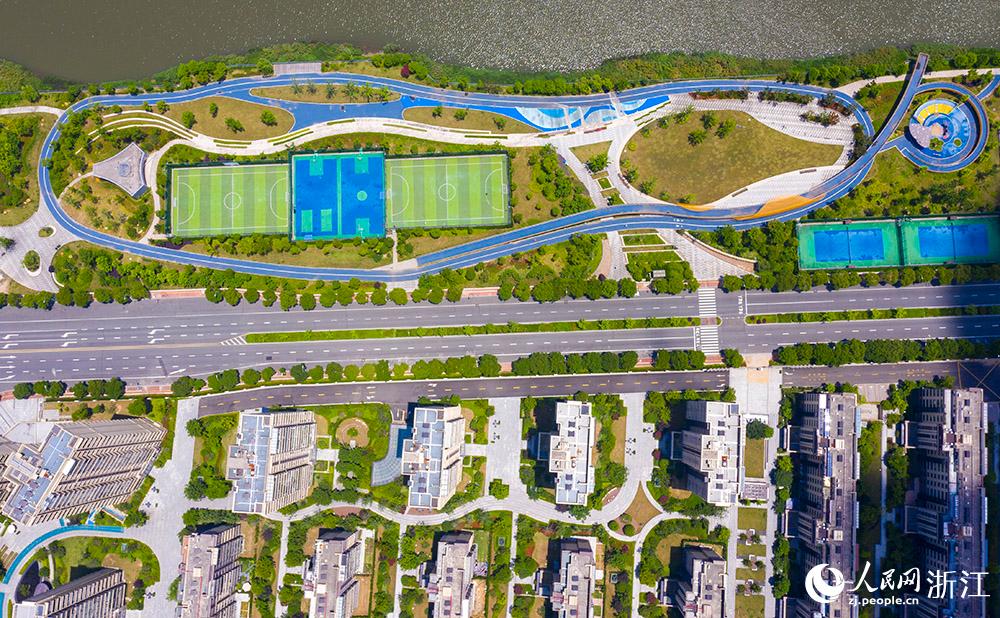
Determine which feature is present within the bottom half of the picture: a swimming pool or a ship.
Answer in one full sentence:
Visible within the bottom half of the picture is a swimming pool.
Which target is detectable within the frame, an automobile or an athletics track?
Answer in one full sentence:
I can see an athletics track in this picture.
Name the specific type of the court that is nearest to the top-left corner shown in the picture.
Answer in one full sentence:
It turns out the court that is nearest to the top-left corner is a basketball court.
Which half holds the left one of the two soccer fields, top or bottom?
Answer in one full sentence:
You can find the left one of the two soccer fields in the top half.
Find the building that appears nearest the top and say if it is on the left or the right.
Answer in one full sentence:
It is on the left.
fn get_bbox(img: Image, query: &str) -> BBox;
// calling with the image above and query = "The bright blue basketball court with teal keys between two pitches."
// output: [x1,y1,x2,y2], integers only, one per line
[288,147,387,242]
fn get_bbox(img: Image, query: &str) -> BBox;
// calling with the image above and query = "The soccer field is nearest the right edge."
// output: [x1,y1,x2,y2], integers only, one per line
[384,148,511,230]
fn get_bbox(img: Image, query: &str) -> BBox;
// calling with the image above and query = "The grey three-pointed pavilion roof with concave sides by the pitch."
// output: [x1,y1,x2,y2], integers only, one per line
[93,143,147,196]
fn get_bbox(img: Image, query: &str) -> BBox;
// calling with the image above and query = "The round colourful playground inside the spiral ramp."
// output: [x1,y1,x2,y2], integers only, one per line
[907,100,971,161]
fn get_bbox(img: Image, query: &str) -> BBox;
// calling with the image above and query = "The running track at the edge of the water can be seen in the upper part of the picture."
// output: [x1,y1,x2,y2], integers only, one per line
[39,71,876,280]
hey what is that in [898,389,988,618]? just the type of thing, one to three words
building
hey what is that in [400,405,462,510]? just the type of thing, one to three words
building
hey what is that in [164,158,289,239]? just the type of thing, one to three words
soccer field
